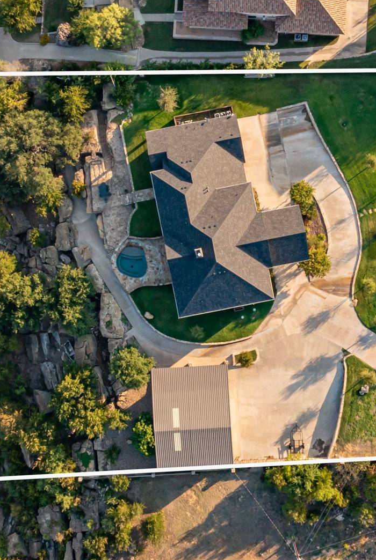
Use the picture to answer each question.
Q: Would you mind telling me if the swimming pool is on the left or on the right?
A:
left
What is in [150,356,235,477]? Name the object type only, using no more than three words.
building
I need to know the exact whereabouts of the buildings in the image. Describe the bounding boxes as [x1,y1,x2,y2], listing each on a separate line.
[150,356,235,477]
[182,0,349,39]
[145,115,310,318]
